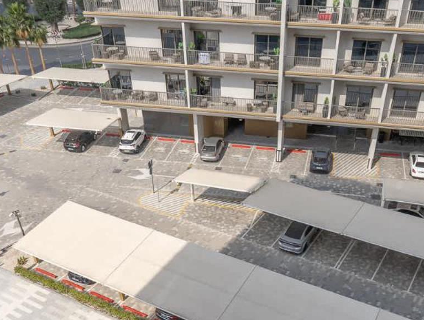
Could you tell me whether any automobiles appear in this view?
Yes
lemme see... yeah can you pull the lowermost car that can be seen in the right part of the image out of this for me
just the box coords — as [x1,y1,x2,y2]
[279,222,326,253]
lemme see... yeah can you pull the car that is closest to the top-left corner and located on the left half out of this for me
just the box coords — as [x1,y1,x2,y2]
[61,128,96,150]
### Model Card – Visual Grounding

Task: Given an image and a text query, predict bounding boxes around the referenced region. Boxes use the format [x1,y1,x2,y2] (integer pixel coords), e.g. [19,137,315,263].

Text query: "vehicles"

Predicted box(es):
[311,143,336,172]
[279,222,326,253]
[61,128,96,150]
[117,129,145,154]
[196,134,227,161]
[159,310,181,320]
[408,148,424,177]
[68,272,97,286]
